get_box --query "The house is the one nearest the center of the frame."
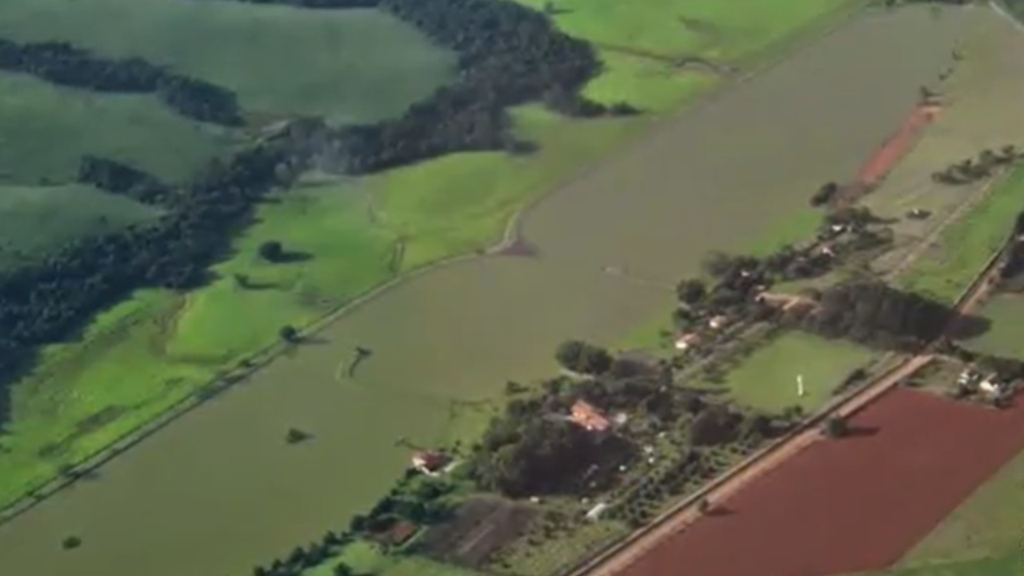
[568,400,614,434]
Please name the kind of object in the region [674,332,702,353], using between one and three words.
house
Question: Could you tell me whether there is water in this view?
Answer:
Yes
